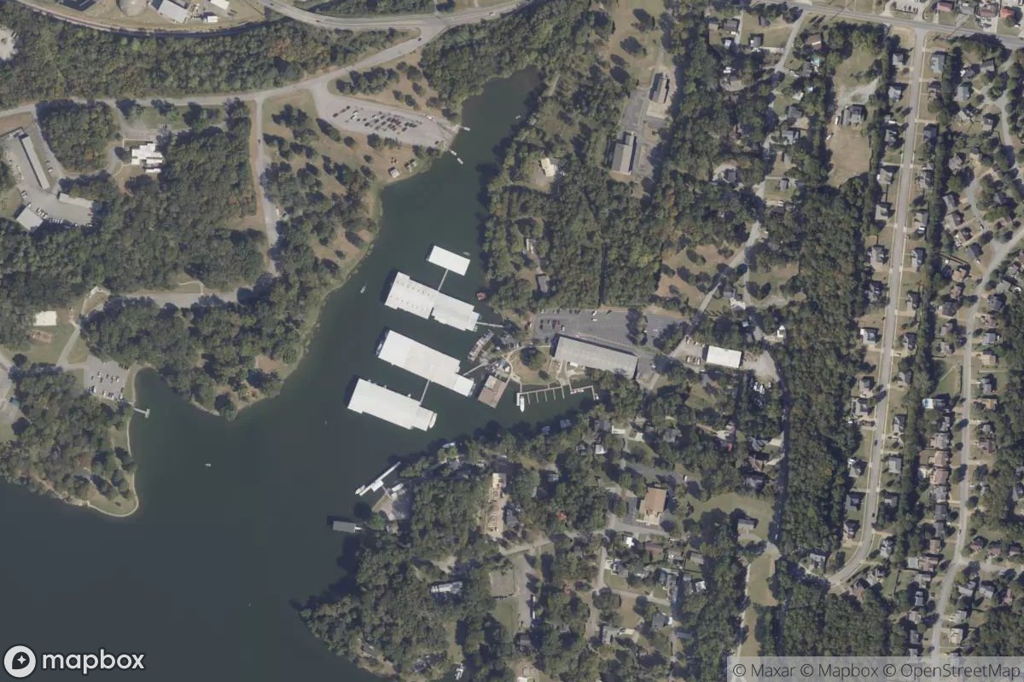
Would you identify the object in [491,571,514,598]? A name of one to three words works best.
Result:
sports court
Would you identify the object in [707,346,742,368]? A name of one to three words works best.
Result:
building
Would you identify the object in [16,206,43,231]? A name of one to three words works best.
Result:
shed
